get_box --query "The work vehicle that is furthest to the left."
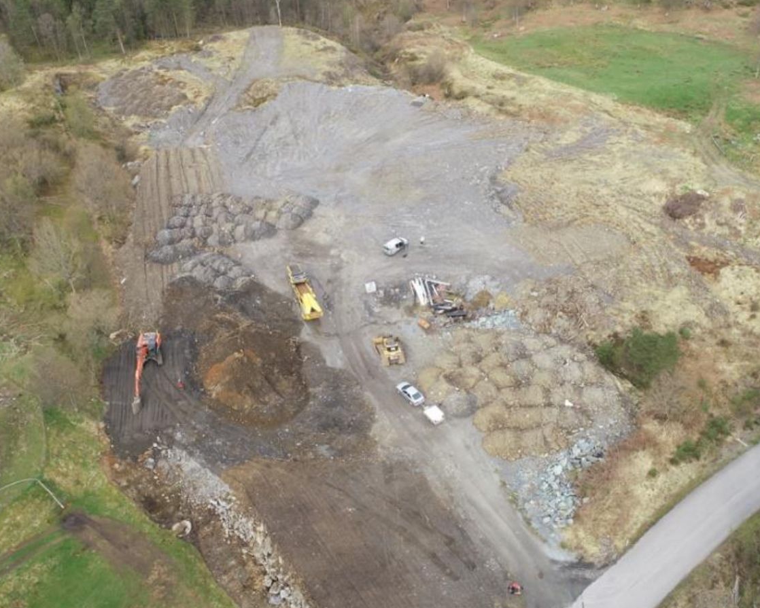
[135,331,162,416]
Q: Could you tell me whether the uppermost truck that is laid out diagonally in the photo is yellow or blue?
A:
yellow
